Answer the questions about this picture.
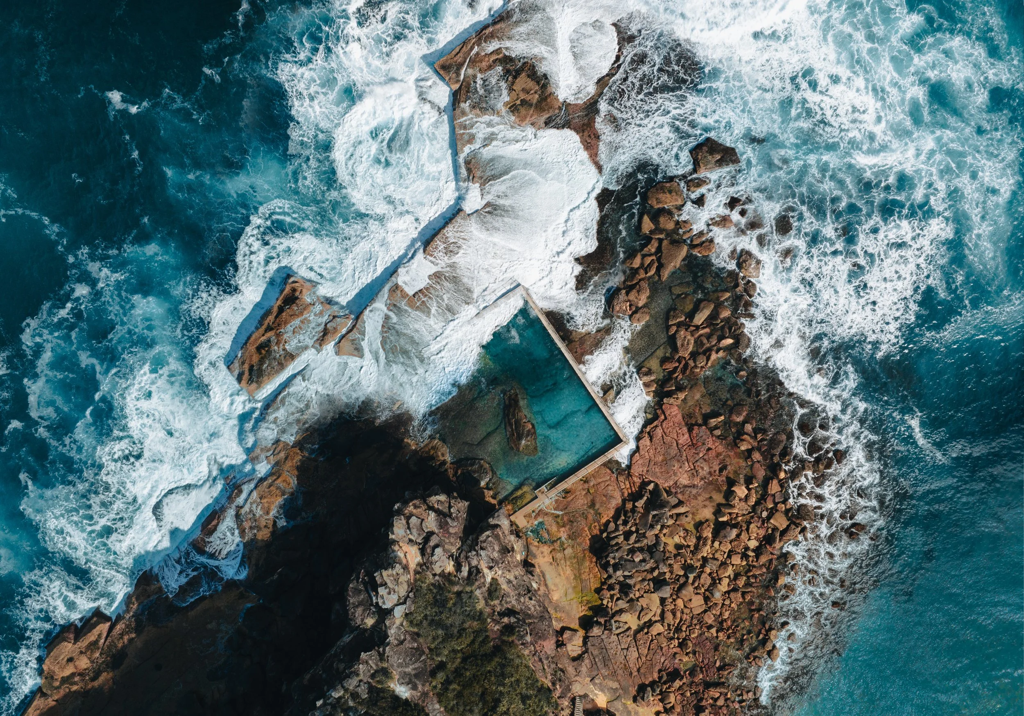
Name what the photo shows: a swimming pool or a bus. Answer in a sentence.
Visible in the photo is a swimming pool.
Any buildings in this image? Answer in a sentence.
No, the photo shows no building.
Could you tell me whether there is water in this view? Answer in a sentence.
Yes, the picture does contain water.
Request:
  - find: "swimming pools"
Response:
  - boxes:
[432,293,620,508]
